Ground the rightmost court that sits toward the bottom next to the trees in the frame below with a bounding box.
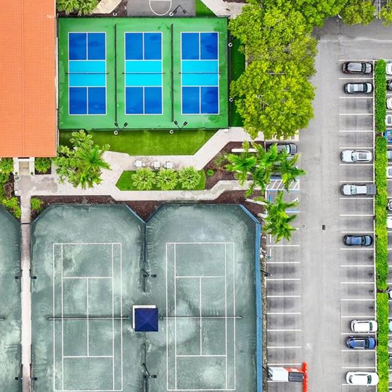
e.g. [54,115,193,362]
[144,206,257,392]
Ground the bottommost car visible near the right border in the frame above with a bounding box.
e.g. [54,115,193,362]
[345,372,378,388]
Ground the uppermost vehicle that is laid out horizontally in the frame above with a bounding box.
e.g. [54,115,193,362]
[341,60,372,74]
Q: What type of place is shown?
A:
sports ground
